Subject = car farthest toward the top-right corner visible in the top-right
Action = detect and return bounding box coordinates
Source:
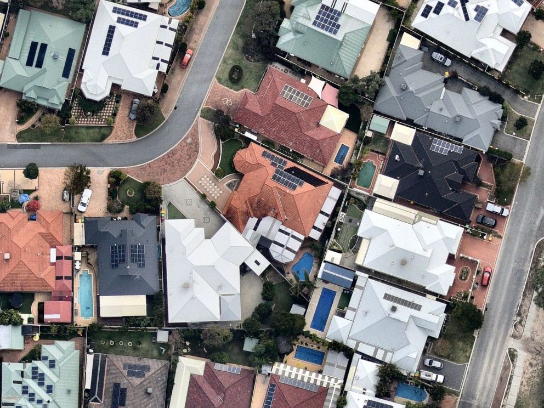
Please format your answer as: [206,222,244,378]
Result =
[432,51,451,66]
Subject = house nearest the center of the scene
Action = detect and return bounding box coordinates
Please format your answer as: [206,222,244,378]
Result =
[222,141,341,263]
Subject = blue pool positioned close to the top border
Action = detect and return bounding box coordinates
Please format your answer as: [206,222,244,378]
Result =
[167,0,192,18]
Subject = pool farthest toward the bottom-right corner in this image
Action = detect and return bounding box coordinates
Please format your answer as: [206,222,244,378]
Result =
[394,381,428,403]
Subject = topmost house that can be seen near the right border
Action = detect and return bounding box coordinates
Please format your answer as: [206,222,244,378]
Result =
[412,0,533,73]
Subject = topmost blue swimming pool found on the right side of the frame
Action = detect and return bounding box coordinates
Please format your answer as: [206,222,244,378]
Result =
[334,144,351,166]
